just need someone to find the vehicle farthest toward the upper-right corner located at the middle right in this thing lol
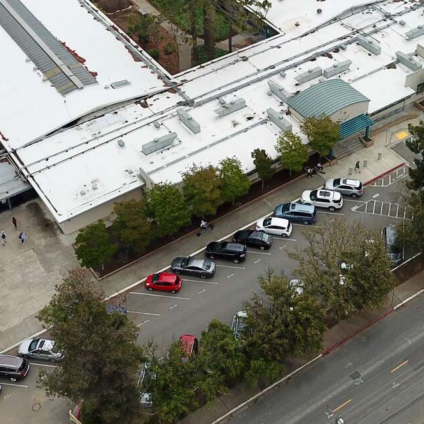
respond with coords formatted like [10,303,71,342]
[326,177,365,196]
